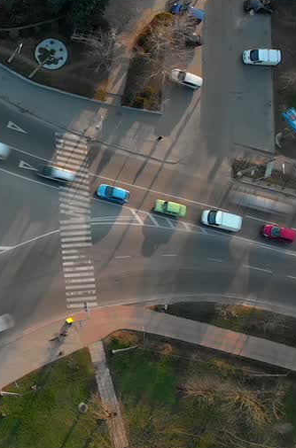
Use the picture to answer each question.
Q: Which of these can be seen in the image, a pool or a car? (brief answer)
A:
car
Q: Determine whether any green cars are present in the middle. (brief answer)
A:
Yes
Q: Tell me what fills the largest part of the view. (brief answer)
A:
paved ground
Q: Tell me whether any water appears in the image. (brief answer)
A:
No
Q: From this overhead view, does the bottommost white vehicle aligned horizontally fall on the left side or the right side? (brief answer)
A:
right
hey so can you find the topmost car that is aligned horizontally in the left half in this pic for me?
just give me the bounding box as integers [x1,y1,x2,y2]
[39,164,77,184]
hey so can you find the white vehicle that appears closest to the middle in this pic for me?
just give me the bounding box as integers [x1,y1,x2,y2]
[199,209,244,232]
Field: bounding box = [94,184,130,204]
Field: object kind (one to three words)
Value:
car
